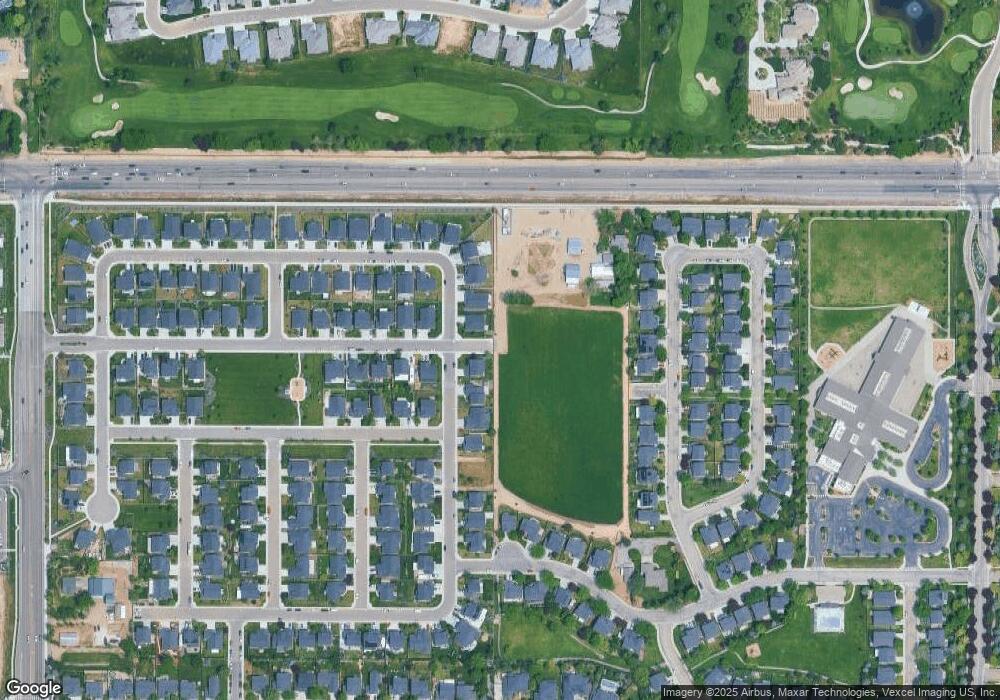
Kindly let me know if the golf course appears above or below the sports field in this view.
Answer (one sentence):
The golf course is above the sports field.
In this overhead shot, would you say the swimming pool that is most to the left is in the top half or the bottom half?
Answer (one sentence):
Seen from above, the swimming pool that is most to the left lies in the bottom half of the view.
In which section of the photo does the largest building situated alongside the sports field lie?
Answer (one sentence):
The largest building situated alongside the sports field is in the right part of the image.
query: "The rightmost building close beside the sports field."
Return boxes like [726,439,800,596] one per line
[813,315,925,494]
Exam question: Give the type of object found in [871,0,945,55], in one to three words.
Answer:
pond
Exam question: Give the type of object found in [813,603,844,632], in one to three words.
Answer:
swimming pool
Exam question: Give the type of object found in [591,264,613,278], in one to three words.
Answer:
barn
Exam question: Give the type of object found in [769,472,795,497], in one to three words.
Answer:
house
